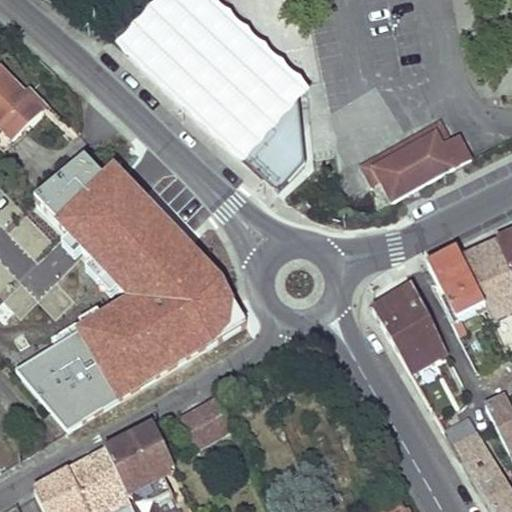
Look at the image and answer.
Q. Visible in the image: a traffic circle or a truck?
traffic circle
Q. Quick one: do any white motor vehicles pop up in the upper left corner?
Yes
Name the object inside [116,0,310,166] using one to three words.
building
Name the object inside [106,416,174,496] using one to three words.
house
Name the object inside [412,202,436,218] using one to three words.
car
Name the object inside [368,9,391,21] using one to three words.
vehicle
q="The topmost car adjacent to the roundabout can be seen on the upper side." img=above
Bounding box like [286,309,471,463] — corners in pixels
[222,168,241,186]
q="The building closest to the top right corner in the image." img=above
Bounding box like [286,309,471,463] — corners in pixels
[361,121,471,206]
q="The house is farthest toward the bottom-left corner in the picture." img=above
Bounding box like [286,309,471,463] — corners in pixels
[34,464,94,512]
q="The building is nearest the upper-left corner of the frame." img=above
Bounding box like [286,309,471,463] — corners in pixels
[0,62,47,150]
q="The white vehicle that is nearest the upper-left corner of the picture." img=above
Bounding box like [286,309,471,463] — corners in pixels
[122,72,140,90]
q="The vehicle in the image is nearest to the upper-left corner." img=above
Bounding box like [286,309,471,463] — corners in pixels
[100,53,119,72]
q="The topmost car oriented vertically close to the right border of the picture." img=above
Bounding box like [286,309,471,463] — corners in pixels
[474,408,487,430]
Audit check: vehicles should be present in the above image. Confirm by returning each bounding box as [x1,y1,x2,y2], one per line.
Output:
[181,200,200,219]
[467,504,478,512]
[368,9,391,21]
[139,90,159,109]
[400,55,422,65]
[122,72,140,90]
[372,25,394,36]
[392,3,414,16]
[412,202,436,218]
[179,130,198,148]
[100,53,119,72]
[222,168,241,186]
[457,483,472,504]
[474,408,487,430]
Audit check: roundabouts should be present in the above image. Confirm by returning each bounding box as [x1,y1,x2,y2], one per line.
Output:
[217,190,404,352]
